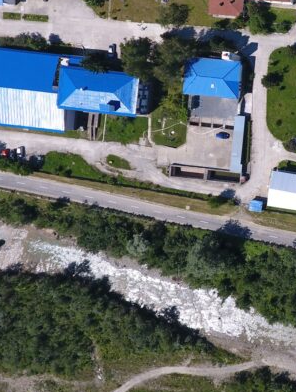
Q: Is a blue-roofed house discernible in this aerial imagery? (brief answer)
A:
Yes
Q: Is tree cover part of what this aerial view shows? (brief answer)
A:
Yes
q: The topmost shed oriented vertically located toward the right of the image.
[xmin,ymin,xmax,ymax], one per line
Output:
[230,116,247,173]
